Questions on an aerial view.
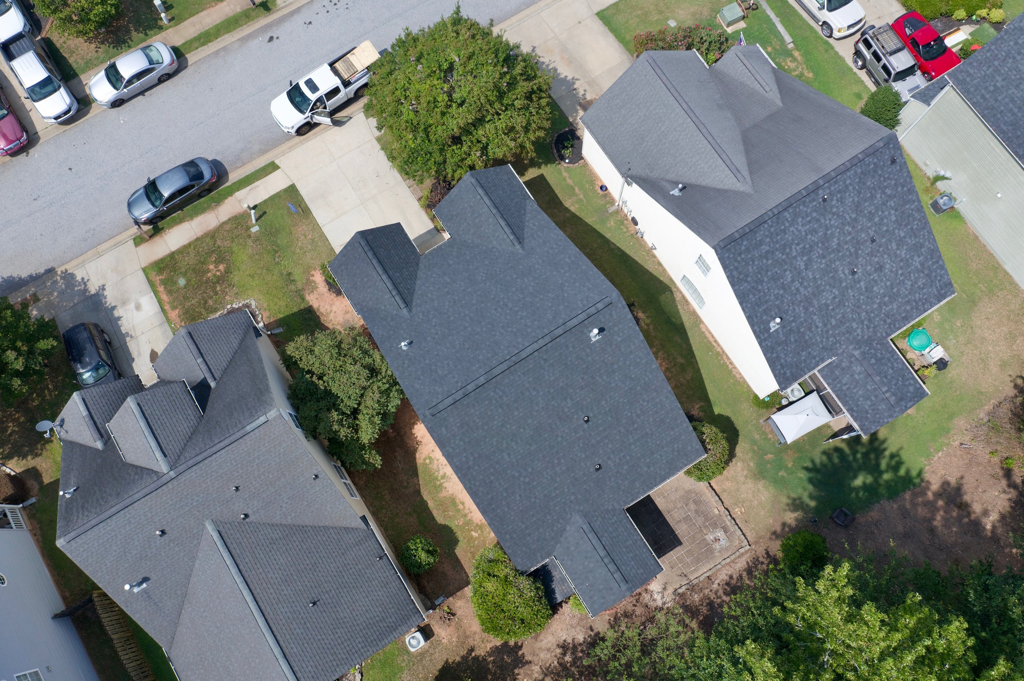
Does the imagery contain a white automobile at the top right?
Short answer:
Yes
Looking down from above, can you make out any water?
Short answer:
No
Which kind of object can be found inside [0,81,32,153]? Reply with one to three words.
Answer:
car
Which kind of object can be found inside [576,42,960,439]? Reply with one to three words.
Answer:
house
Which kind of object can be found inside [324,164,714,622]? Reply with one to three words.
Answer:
house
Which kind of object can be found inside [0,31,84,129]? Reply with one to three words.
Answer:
truck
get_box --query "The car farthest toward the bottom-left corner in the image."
[62,320,130,388]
